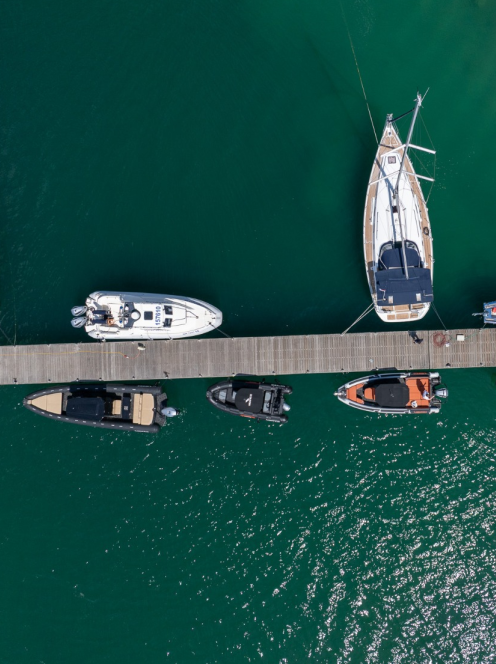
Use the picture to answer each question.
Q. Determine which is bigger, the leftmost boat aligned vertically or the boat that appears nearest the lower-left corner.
the leftmost boat aligned vertically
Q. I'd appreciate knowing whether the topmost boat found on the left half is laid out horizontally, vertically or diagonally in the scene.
horizontally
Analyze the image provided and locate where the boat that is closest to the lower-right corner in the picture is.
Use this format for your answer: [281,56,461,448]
[333,373,450,414]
